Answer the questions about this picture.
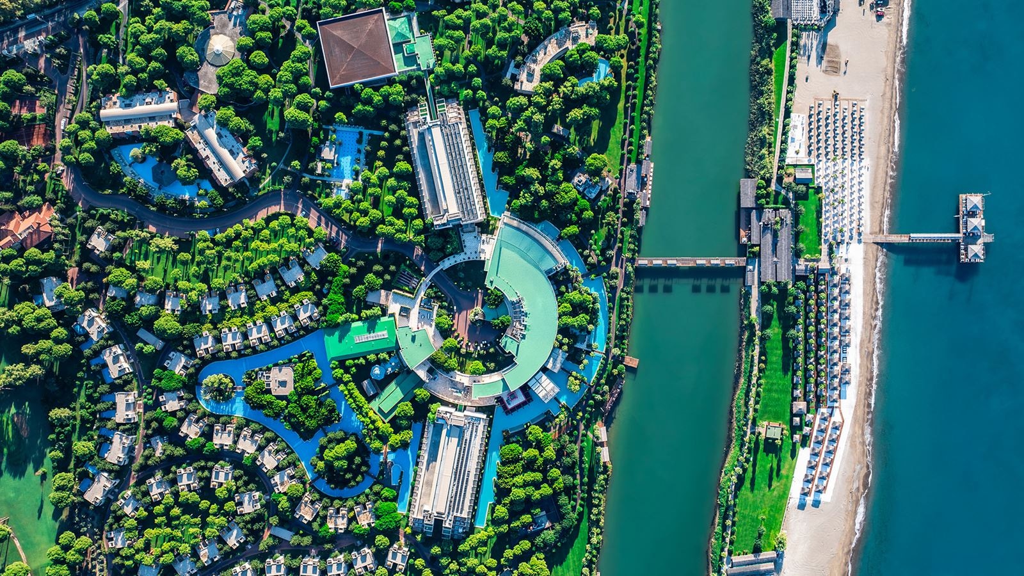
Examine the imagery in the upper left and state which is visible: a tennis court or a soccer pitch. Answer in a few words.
tennis court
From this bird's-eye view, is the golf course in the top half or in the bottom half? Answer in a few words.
bottom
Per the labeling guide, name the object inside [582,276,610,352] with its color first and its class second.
blue swimming pool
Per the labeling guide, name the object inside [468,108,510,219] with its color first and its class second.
blue swimming pool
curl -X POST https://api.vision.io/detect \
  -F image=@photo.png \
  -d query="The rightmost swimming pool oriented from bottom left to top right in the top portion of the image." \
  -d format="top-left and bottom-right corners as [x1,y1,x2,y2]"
[577,57,610,86]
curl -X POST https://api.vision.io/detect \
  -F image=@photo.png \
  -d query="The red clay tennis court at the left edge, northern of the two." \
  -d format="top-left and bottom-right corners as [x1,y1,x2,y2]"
[8,97,46,114]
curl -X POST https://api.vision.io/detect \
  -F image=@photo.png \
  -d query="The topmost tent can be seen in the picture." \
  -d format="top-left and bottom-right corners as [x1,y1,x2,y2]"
[206,34,237,66]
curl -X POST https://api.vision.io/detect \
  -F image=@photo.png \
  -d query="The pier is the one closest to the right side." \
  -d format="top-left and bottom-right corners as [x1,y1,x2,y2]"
[861,192,995,262]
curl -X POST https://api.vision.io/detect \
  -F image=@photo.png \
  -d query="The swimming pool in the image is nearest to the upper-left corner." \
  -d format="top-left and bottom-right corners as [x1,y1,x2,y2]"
[116,142,213,197]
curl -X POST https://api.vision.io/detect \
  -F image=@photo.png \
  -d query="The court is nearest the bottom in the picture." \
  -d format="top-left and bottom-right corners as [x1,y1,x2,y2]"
[4,122,51,147]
